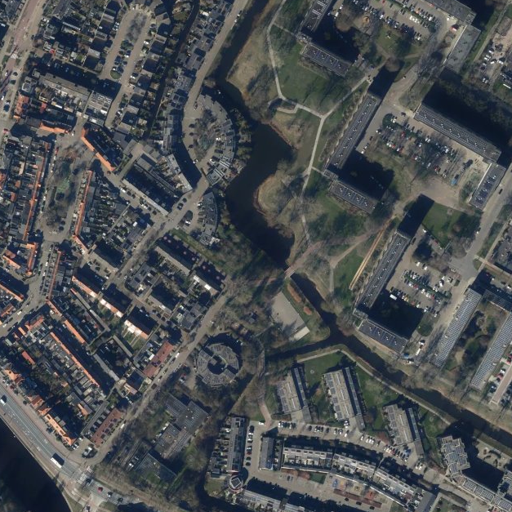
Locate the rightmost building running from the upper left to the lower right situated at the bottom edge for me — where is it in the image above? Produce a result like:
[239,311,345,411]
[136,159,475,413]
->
[460,473,512,512]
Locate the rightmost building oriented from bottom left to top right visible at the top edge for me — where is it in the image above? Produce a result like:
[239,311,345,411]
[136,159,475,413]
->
[443,24,482,74]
